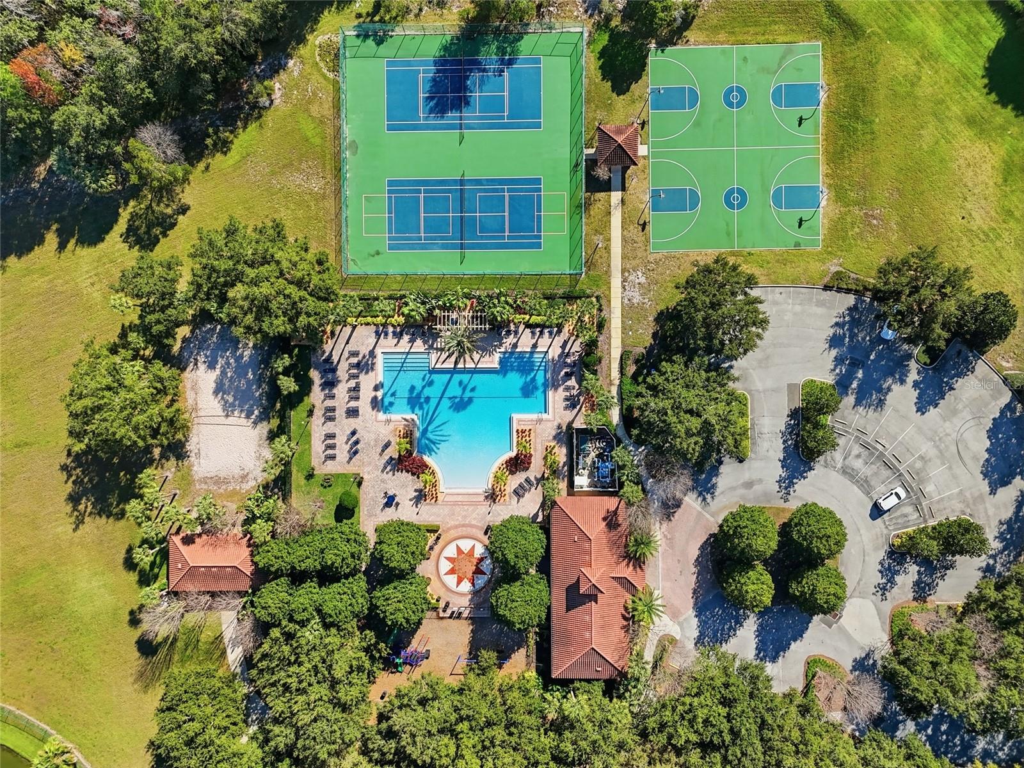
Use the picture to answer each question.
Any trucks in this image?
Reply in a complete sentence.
No, no truck can be seen from above.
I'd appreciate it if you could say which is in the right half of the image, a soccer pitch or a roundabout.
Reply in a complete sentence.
What appears in the right half of the image is a roundabout.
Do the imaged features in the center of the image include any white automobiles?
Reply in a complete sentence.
No, looking in the center of the image, there is no white automobile.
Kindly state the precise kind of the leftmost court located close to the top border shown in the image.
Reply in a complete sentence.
Looking closely, the leftmost court located close to the top border is a tennis court.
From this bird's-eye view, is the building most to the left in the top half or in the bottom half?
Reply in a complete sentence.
The building most to the left sits in the bottom half of the picture.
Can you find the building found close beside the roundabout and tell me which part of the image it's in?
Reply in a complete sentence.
The building found close beside the roundabout sits in the bottom section of the image.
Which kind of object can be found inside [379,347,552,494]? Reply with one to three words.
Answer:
swimming pool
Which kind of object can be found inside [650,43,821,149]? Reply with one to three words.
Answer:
basketball court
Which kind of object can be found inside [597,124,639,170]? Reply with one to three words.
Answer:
building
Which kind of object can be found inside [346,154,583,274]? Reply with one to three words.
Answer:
tennis court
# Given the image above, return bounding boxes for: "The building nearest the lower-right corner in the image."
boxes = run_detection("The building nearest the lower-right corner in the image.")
[550,497,646,679]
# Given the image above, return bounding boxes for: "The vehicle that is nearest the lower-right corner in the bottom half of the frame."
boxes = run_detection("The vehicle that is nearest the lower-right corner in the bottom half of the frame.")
[873,485,905,512]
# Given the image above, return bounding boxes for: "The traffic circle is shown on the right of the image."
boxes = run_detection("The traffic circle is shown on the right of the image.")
[704,479,863,630]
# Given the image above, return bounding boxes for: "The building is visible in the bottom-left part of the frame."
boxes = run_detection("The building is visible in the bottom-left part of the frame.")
[168,533,266,591]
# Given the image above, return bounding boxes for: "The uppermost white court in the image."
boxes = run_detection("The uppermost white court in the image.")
[180,319,277,493]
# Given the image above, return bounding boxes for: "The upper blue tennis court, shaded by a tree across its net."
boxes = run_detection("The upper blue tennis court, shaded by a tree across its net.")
[345,33,583,156]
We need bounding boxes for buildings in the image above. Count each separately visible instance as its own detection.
[168,533,266,591]
[550,497,646,679]
[597,124,639,170]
